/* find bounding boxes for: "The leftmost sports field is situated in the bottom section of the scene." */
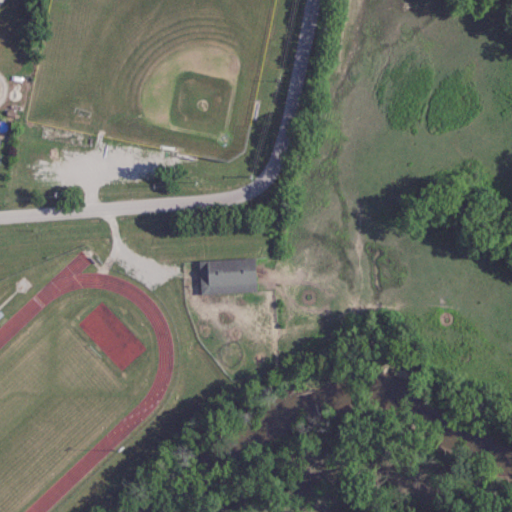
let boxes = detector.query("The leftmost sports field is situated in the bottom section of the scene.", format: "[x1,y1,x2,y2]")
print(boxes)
[0,343,101,510]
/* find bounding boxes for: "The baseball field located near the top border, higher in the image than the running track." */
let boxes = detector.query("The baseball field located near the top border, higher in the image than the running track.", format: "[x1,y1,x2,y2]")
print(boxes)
[28,0,277,162]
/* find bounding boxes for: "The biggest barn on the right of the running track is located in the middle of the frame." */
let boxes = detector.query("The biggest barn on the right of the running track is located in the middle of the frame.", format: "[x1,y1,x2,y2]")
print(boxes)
[200,259,258,294]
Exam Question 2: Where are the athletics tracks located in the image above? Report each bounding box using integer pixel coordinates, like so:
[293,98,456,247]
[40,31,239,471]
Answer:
[0,256,174,512]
